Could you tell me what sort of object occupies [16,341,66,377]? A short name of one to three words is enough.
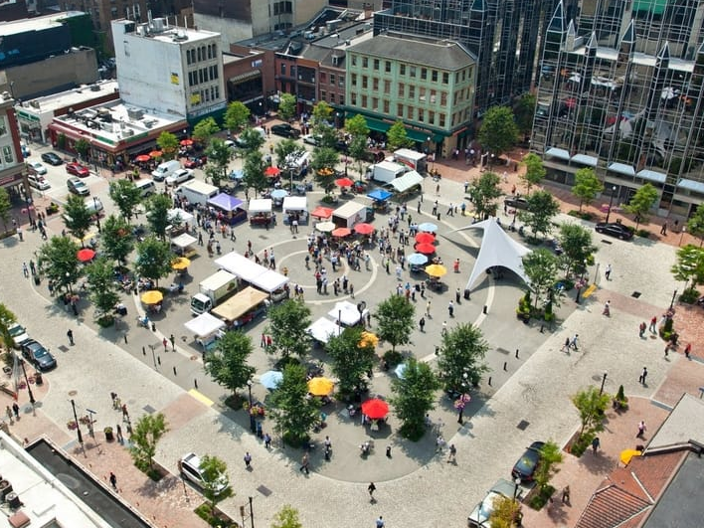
car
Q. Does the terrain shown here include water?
No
